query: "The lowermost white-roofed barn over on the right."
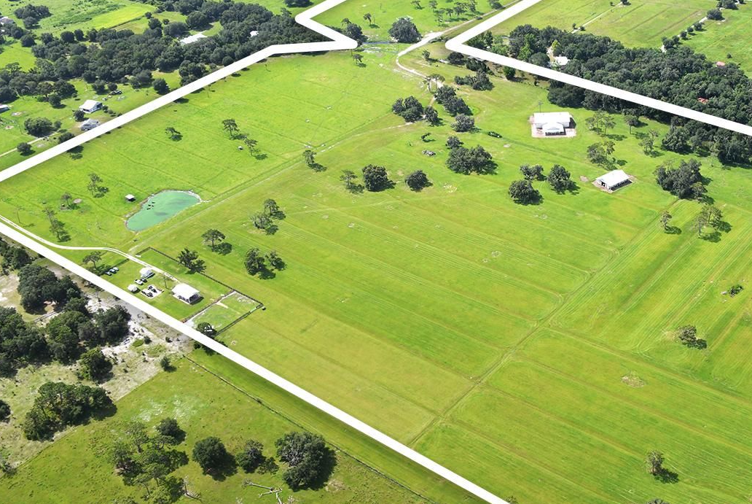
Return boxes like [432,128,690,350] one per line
[597,170,631,192]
